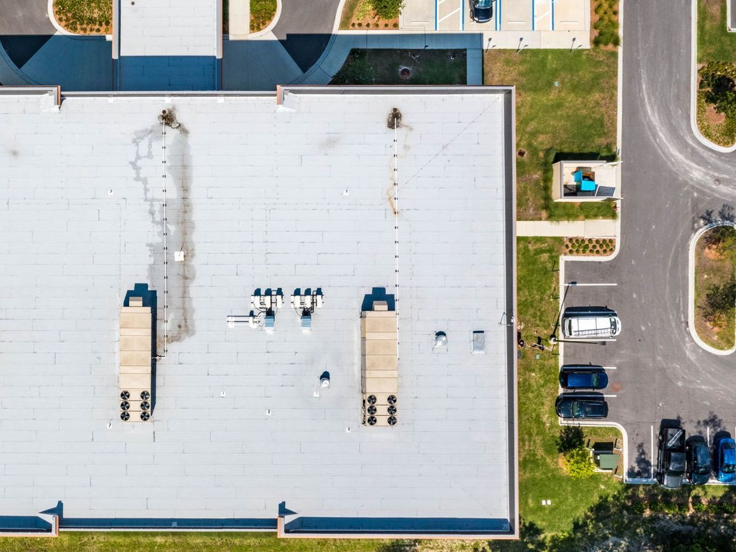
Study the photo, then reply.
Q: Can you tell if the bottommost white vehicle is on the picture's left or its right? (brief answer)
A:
right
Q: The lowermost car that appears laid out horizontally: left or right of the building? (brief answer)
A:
right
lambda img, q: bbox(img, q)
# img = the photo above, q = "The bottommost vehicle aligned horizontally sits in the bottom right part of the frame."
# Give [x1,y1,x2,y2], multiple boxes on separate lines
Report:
[556,396,610,420]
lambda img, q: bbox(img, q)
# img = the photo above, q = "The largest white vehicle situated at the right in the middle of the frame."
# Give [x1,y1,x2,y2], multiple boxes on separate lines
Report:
[562,315,619,340]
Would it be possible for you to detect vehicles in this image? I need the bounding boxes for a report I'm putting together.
[468,0,491,19]
[561,367,607,390]
[686,442,713,486]
[712,440,736,484]
[562,315,619,340]
[658,429,689,488]
[556,396,610,420]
